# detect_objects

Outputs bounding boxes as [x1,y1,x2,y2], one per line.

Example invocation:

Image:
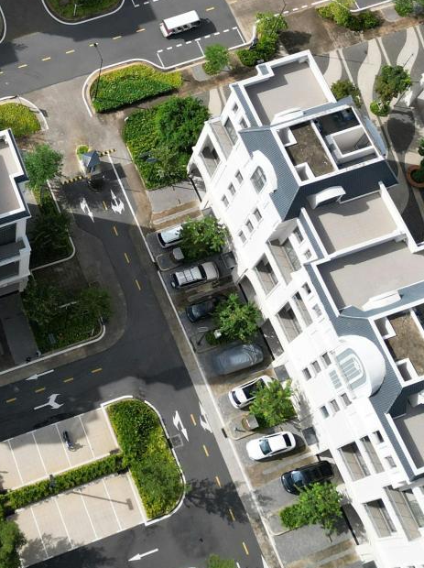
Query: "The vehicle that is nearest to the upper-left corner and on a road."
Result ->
[156,6,208,39]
